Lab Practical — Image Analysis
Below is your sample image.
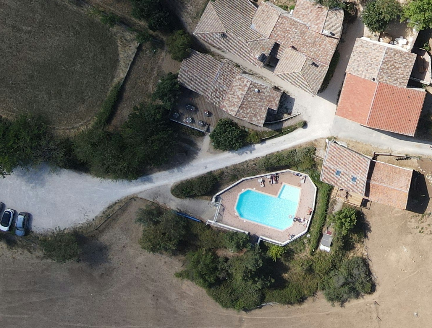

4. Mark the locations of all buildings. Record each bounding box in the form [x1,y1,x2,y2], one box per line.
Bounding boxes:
[177,47,288,126]
[320,135,414,210]
[335,38,427,139]
[320,225,334,249]
[193,0,348,97]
